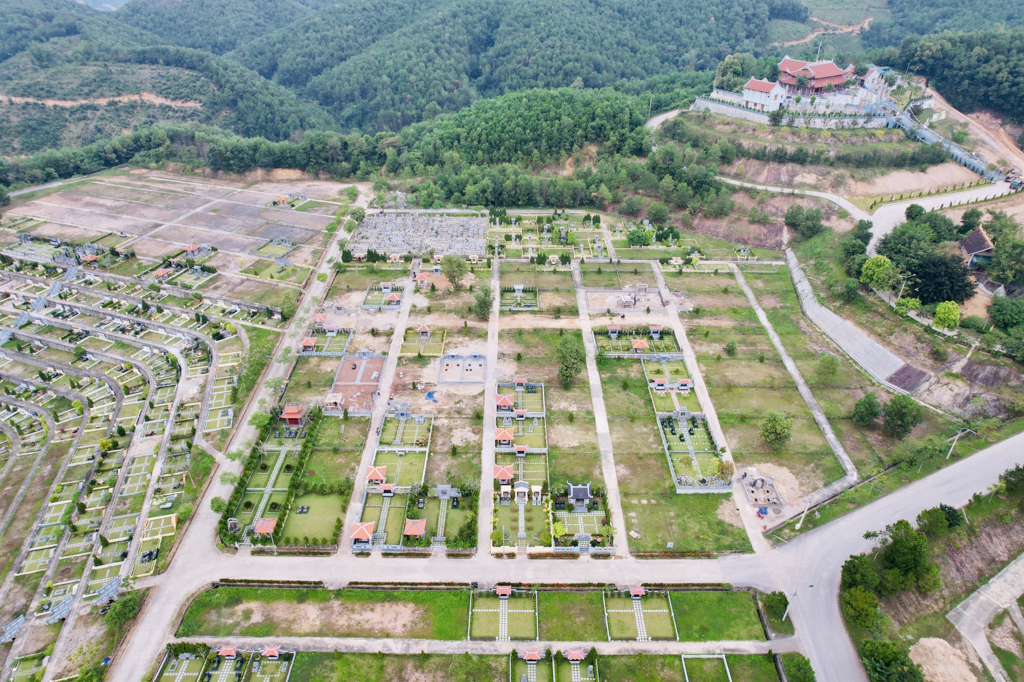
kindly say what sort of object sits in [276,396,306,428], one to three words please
building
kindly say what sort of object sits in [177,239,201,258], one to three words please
gazebo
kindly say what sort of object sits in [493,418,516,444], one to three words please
gazebo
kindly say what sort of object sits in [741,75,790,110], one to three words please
house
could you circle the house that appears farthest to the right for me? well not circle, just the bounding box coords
[960,221,1001,271]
